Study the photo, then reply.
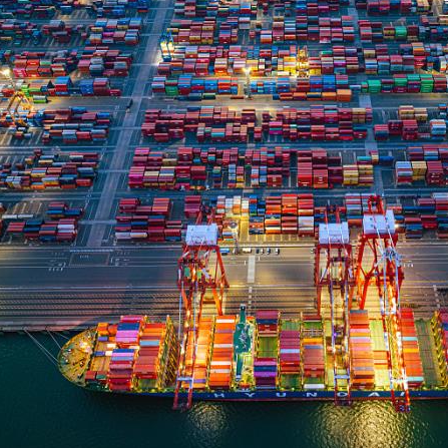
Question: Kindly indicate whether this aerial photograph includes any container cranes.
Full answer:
Yes, this view includes a container crane.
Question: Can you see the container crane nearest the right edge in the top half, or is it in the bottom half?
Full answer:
The bottom half of the photo is where the container crane nearest the right edge is.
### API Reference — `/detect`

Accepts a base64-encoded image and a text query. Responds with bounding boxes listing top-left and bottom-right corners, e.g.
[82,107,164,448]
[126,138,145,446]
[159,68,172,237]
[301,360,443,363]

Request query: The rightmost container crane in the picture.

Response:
[352,194,412,408]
